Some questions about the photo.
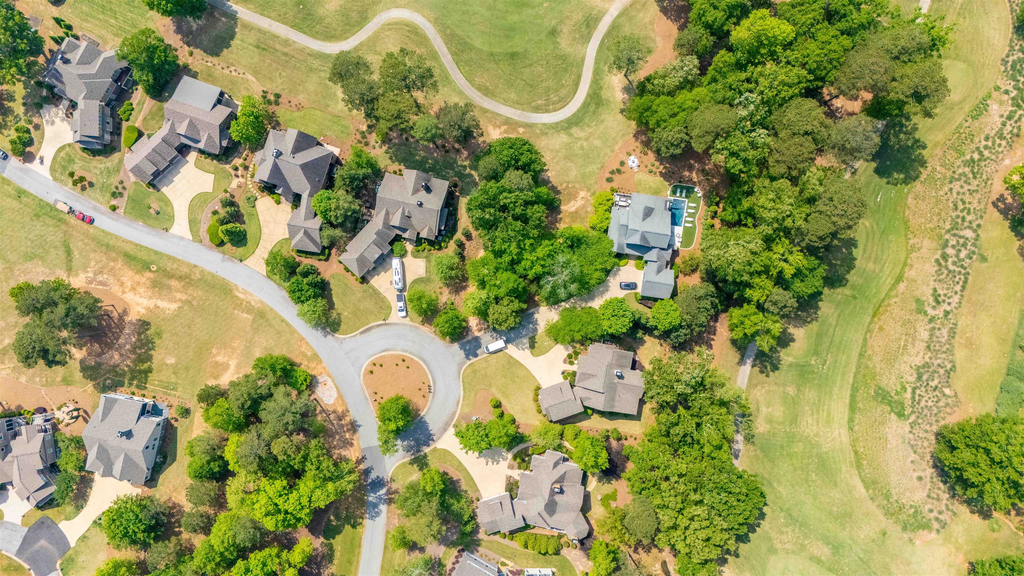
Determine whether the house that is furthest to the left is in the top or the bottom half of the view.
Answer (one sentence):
The house that is furthest to the left is in the bottom half of the image.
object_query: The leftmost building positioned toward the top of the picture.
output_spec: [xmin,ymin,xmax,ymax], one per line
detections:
[46,37,130,149]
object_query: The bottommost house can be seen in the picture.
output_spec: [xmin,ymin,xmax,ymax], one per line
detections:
[453,547,499,576]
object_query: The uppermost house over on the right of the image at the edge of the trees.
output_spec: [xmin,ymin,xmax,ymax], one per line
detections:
[608,193,675,297]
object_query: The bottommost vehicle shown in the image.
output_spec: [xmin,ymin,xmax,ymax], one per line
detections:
[483,338,508,354]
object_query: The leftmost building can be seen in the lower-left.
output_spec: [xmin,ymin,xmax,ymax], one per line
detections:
[0,413,58,506]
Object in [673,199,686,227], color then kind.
blue swimming pool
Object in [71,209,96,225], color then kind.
red vehicle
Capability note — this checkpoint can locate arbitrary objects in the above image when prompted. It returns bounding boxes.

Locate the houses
[128,75,235,185]
[477,451,588,540]
[608,193,675,297]
[250,129,341,253]
[336,170,449,282]
[453,547,499,576]
[0,413,58,506]
[79,392,170,484]
[46,37,130,149]
[539,343,645,421]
